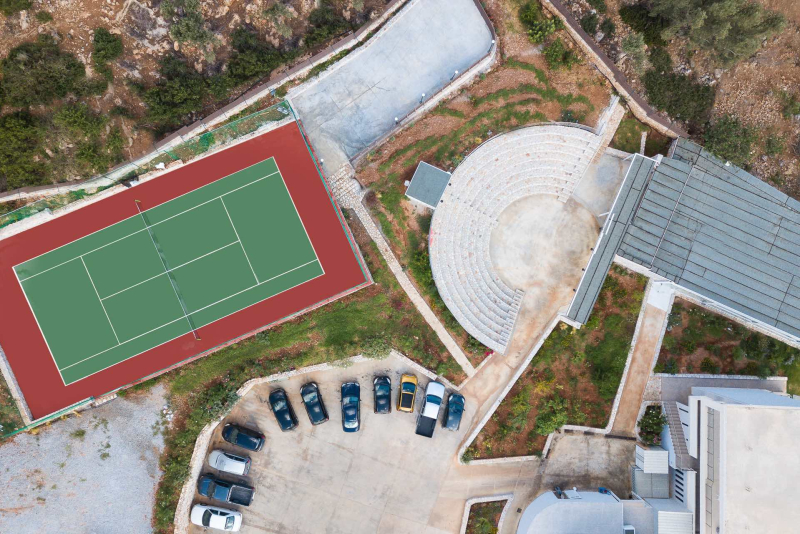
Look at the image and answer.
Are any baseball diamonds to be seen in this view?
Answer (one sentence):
No, the scene contains no baseball diamond.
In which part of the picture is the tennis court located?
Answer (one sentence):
The tennis court is located in the left region of the scene.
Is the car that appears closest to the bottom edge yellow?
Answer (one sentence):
No, the car that appears closest to the bottom edge is actually white.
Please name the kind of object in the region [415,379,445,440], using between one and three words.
truck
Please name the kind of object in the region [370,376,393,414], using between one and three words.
car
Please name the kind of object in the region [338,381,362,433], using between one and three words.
car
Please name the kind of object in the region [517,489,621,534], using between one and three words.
building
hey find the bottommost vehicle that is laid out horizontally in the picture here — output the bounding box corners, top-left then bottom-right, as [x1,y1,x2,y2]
[190,501,245,534]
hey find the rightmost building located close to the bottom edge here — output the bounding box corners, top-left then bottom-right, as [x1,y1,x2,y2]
[687,389,800,534]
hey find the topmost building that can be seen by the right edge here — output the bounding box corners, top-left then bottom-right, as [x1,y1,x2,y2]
[613,137,800,353]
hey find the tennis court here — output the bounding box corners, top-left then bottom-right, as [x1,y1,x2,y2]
[0,114,373,427]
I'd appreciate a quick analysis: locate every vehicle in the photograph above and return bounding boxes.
[370,376,393,414]
[197,473,256,509]
[221,420,266,454]
[298,379,330,427]
[190,501,245,534]
[338,381,362,433]
[397,373,420,414]
[208,447,253,479]
[441,392,468,433]
[266,386,300,435]
[415,379,445,440]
